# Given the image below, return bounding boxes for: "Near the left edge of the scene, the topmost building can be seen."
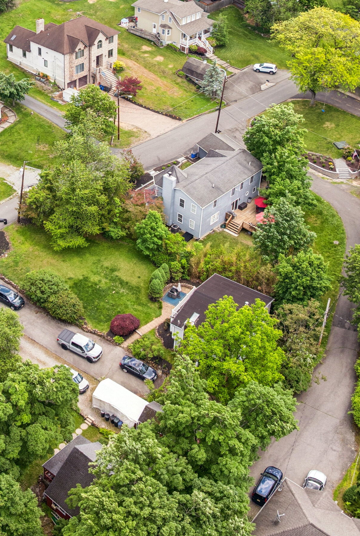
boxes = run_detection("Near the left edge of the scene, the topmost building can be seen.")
[2,15,127,90]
